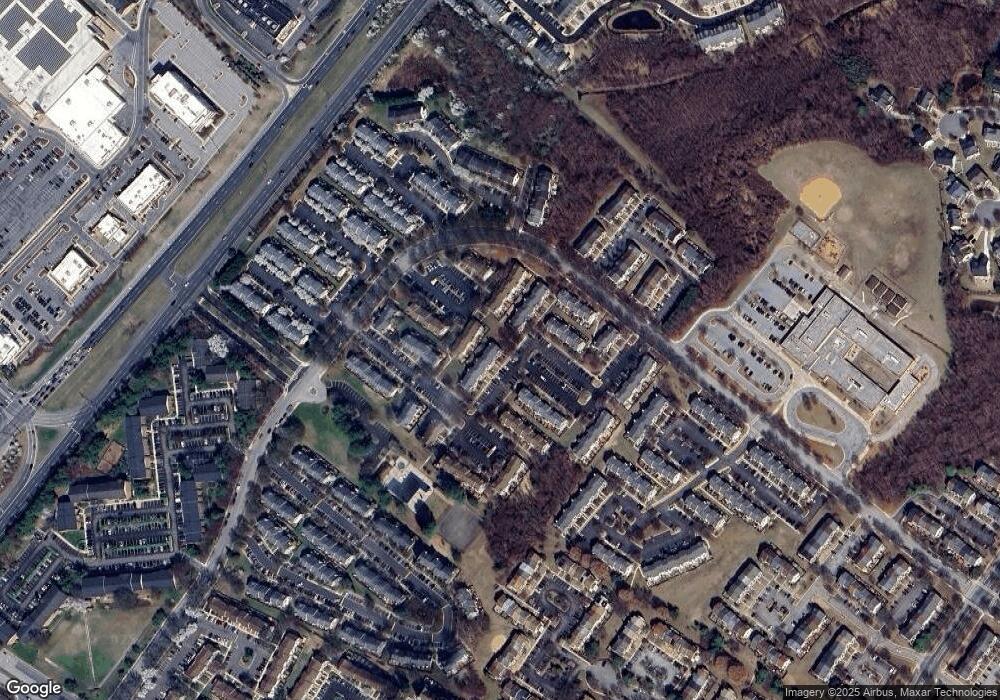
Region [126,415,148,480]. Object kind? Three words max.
building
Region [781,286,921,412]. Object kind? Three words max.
building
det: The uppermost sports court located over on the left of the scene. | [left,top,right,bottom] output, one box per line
[97,439,125,472]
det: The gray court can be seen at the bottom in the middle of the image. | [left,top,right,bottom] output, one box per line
[440,503,480,551]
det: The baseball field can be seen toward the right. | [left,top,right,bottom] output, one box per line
[799,177,842,222]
